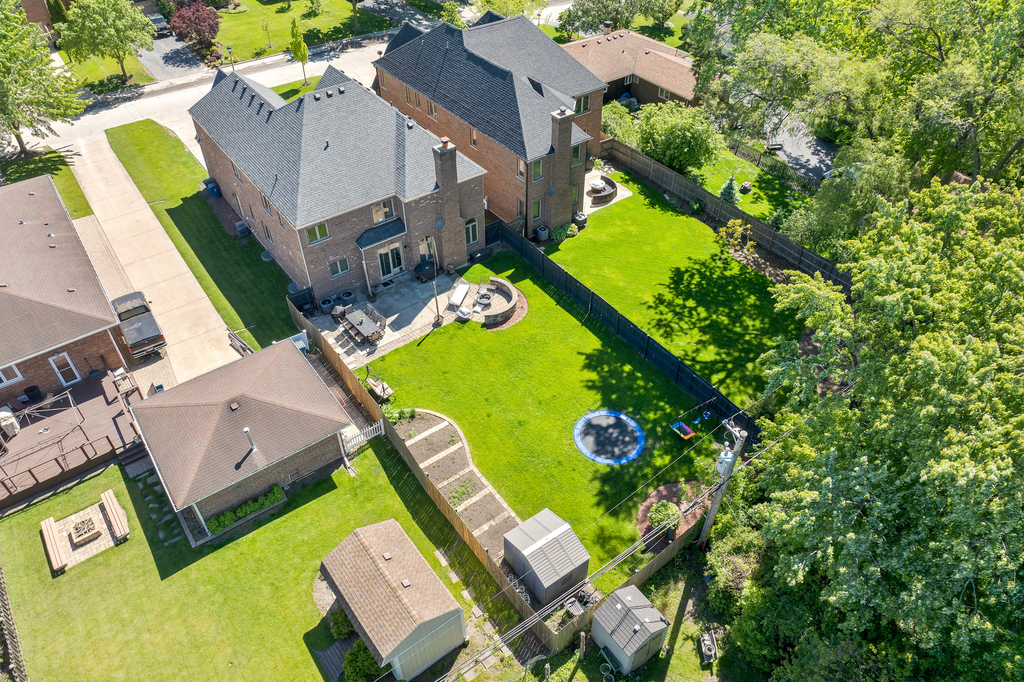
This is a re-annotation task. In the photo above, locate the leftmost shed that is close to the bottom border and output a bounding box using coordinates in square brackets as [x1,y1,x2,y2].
[319,519,466,675]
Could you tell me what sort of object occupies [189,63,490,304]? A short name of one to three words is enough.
house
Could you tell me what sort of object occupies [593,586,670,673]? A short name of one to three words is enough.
shed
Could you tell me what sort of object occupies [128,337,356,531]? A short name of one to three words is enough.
building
